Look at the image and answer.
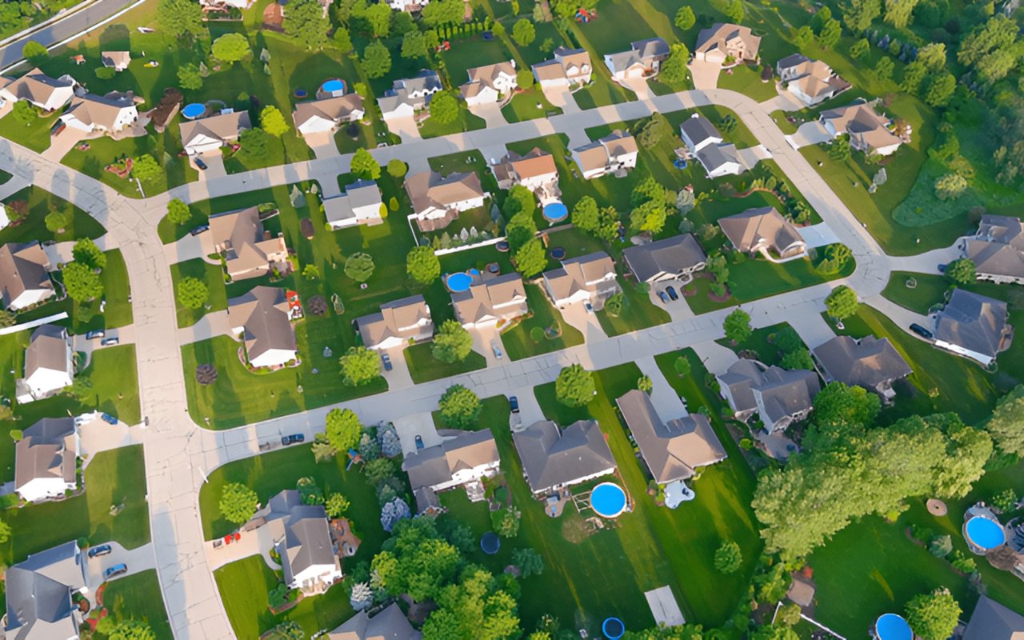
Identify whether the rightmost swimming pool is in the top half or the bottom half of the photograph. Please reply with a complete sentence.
The bottom half of the photo is where the rightmost swimming pool is.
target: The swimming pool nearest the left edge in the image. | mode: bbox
[182,105,205,119]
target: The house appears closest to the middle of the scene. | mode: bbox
[451,275,533,332]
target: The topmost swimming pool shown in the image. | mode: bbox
[322,80,344,92]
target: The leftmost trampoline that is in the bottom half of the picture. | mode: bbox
[479,533,500,554]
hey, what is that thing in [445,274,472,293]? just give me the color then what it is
blue swimming pool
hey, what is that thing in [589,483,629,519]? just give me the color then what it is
blue swimming pool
